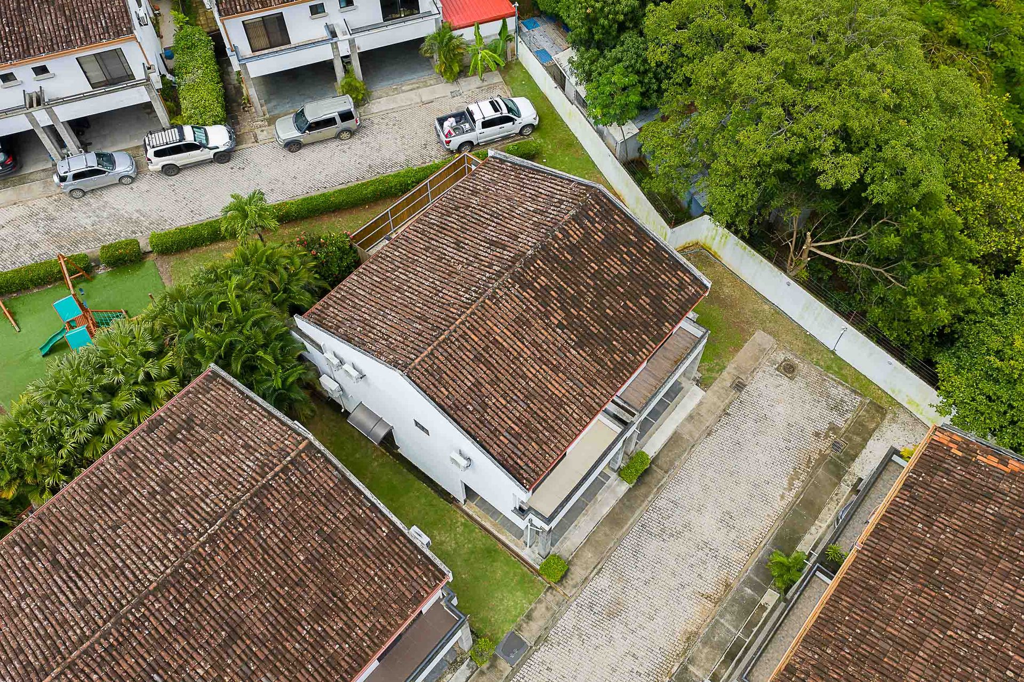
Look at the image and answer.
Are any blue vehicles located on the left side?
No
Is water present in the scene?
No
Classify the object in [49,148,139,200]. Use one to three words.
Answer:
car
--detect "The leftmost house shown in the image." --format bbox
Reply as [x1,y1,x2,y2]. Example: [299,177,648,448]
[0,0,171,175]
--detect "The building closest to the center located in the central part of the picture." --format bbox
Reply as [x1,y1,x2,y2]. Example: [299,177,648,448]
[297,156,714,561]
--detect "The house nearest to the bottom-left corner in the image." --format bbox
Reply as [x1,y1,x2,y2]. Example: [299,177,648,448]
[0,366,473,682]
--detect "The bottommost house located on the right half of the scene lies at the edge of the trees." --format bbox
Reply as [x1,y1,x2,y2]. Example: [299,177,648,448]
[730,424,1024,682]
